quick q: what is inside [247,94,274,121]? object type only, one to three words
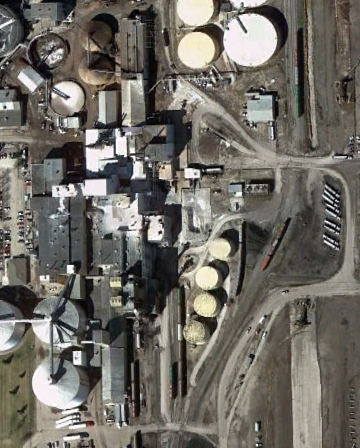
house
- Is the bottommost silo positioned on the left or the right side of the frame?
left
